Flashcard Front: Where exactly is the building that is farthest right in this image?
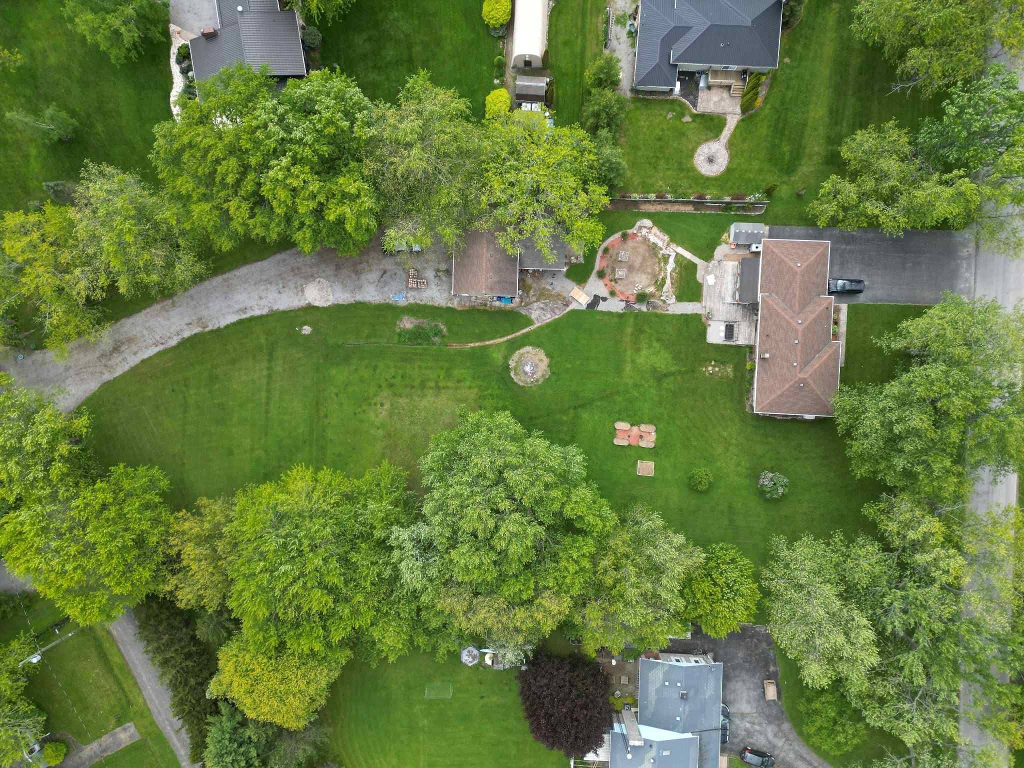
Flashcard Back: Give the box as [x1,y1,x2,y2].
[751,239,842,422]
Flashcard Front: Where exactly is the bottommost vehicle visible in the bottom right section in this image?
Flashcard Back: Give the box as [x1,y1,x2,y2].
[741,747,778,768]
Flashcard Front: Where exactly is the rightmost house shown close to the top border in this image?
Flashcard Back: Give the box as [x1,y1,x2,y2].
[633,0,783,93]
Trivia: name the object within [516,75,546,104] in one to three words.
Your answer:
shed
